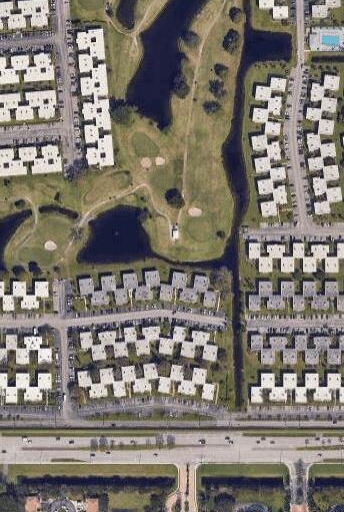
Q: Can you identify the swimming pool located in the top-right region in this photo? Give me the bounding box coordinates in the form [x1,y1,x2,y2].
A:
[311,27,344,51]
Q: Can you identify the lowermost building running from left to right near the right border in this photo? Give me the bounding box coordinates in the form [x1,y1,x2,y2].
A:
[251,372,344,403]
